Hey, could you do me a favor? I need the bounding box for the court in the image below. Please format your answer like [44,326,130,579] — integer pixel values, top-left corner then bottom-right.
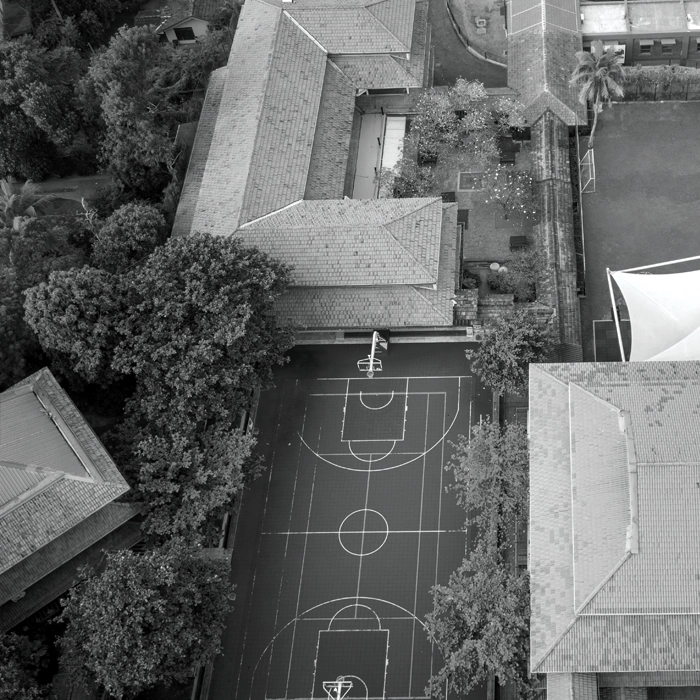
[211,342,496,700]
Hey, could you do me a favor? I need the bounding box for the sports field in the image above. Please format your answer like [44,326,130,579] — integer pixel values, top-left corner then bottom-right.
[579,99,700,360]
